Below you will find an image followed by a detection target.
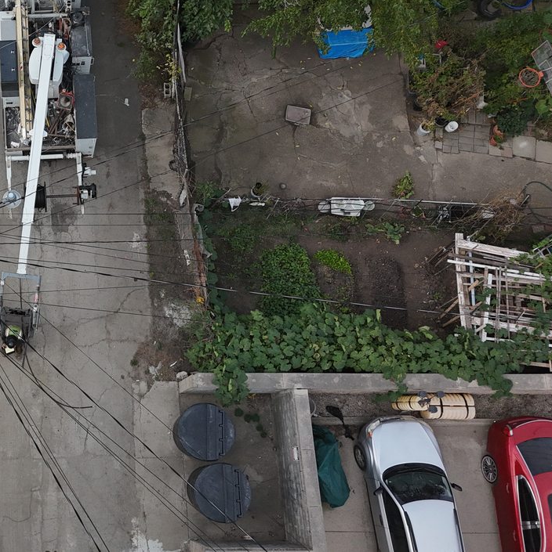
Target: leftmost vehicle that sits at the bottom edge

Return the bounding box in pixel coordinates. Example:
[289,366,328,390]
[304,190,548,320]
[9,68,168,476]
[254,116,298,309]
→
[356,415,473,552]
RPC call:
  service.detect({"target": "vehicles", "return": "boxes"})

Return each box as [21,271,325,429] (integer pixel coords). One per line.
[0,0,98,374]
[482,415,552,552]
[356,415,473,552]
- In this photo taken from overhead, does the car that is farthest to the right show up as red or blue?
red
